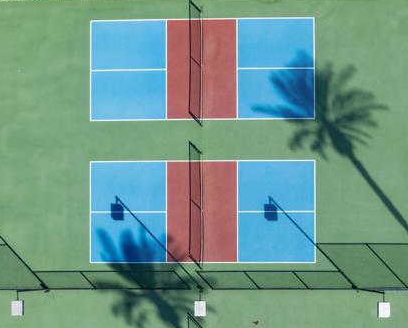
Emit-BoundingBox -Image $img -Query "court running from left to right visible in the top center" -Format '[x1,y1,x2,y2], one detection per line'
[90,17,315,121]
